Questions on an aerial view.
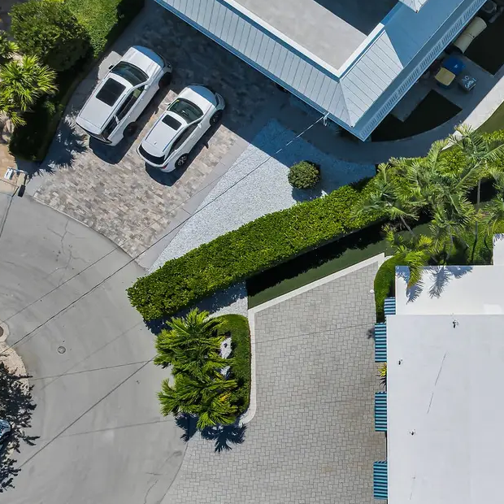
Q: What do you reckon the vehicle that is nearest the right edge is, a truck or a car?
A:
car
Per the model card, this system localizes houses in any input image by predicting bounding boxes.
[147,0,488,142]
[374,233,504,504]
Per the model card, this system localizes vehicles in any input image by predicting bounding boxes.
[139,83,225,178]
[81,43,174,150]
[0,420,9,449]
